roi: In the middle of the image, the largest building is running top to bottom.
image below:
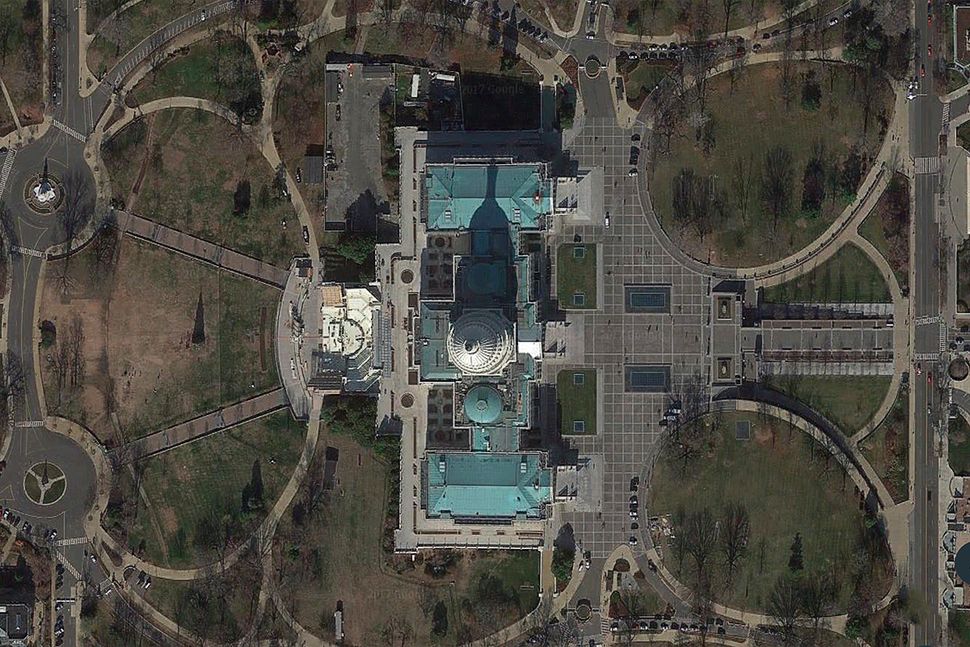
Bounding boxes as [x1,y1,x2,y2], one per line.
[411,156,591,525]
